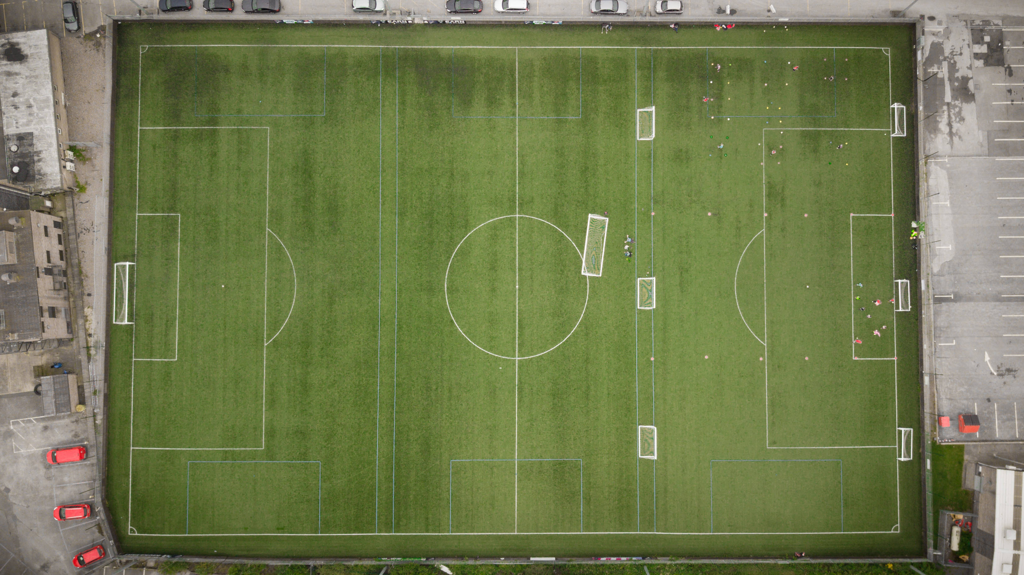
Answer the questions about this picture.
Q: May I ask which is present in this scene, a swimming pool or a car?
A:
car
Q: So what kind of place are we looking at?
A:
sports ground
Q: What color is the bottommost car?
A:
red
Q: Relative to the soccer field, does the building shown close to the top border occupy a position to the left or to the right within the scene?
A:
left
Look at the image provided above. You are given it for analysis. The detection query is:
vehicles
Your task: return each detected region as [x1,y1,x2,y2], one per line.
[494,0,530,13]
[157,0,192,13]
[48,362,66,369]
[63,0,82,34]
[445,0,482,13]
[53,502,90,521]
[202,0,233,13]
[72,544,106,569]
[655,0,685,14]
[241,0,280,13]
[46,446,86,466]
[351,0,384,13]
[591,0,628,14]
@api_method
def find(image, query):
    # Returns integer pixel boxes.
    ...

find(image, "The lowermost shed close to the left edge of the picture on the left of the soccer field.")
[41,373,79,416]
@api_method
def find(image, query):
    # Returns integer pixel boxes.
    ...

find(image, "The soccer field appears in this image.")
[106,23,923,557]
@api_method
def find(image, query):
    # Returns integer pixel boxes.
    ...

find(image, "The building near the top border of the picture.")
[0,27,74,192]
